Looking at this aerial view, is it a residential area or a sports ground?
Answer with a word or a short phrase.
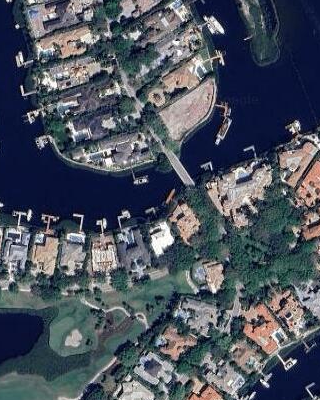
residential area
